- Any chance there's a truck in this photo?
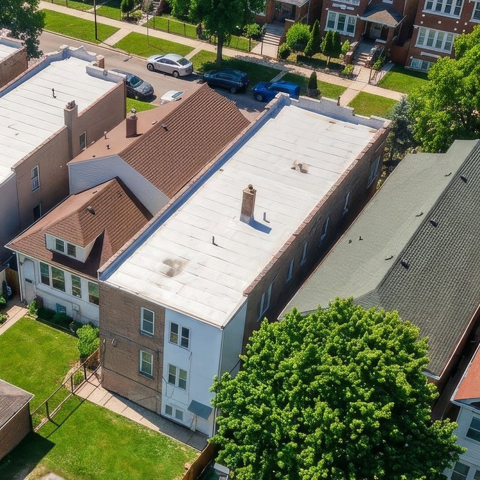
No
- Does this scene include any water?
No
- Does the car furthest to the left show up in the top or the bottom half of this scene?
top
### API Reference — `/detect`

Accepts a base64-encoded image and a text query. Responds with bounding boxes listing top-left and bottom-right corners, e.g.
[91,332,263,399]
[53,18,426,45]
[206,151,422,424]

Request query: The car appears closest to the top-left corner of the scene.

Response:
[105,73,156,99]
